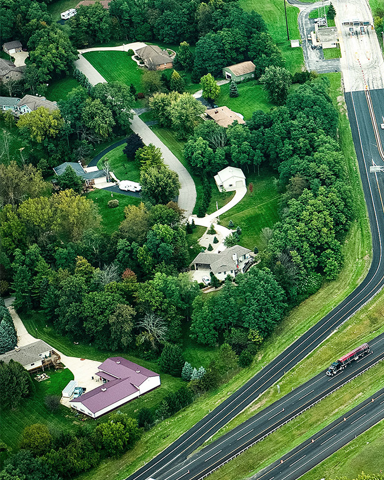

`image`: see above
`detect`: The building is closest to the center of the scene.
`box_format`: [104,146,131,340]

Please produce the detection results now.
[193,249,256,276]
